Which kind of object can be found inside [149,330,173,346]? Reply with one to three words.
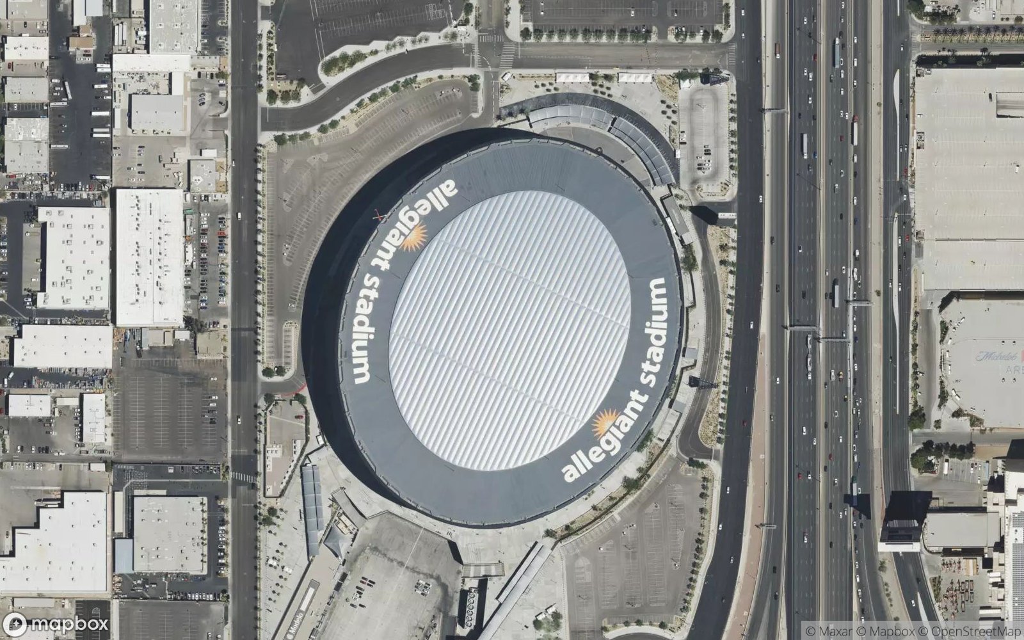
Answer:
building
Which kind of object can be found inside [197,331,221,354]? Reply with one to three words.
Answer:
house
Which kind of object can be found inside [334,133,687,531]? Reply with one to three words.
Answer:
stadium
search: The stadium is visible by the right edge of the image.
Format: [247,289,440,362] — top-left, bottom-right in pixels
[942,301,1024,428]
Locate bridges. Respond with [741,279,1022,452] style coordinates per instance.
[461,563,505,578]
